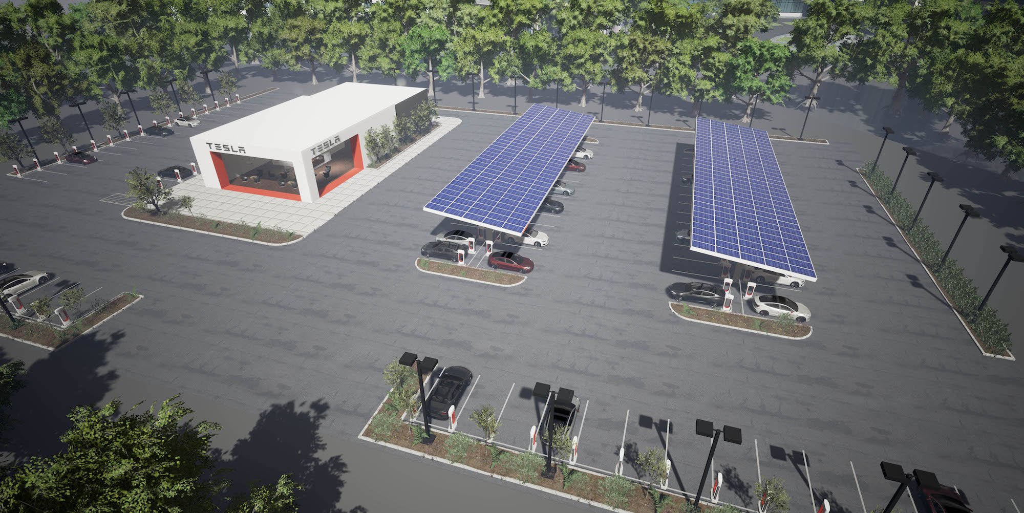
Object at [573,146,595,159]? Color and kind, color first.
white vehicle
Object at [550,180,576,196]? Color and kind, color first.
gray car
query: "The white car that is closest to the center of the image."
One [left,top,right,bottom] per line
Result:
[504,227,550,247]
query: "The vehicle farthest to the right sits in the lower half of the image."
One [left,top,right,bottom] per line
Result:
[916,479,971,513]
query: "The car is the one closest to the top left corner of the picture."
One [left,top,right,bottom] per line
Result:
[64,152,99,166]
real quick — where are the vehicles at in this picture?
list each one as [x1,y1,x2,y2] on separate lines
[683,175,693,186]
[550,180,576,196]
[750,293,812,320]
[667,280,725,306]
[174,116,202,127]
[539,196,566,214]
[504,227,550,247]
[0,271,47,301]
[160,165,195,180]
[573,146,595,159]
[0,261,13,273]
[149,125,178,137]
[433,228,479,247]
[64,152,99,166]
[485,250,535,273]
[565,158,587,172]
[421,240,468,261]
[750,269,805,288]
[916,479,971,513]
[425,365,470,418]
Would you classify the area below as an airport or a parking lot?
parking lot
